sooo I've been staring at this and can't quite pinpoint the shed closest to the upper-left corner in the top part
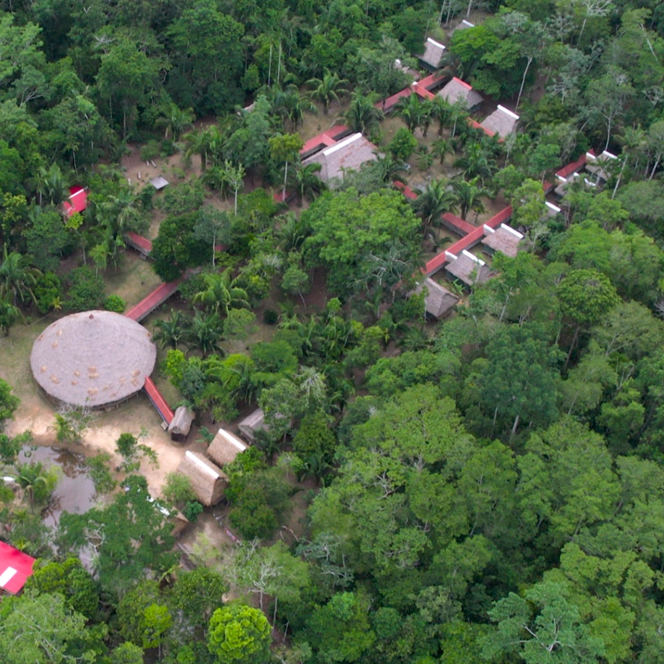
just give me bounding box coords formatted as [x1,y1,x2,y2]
[61,186,97,216]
